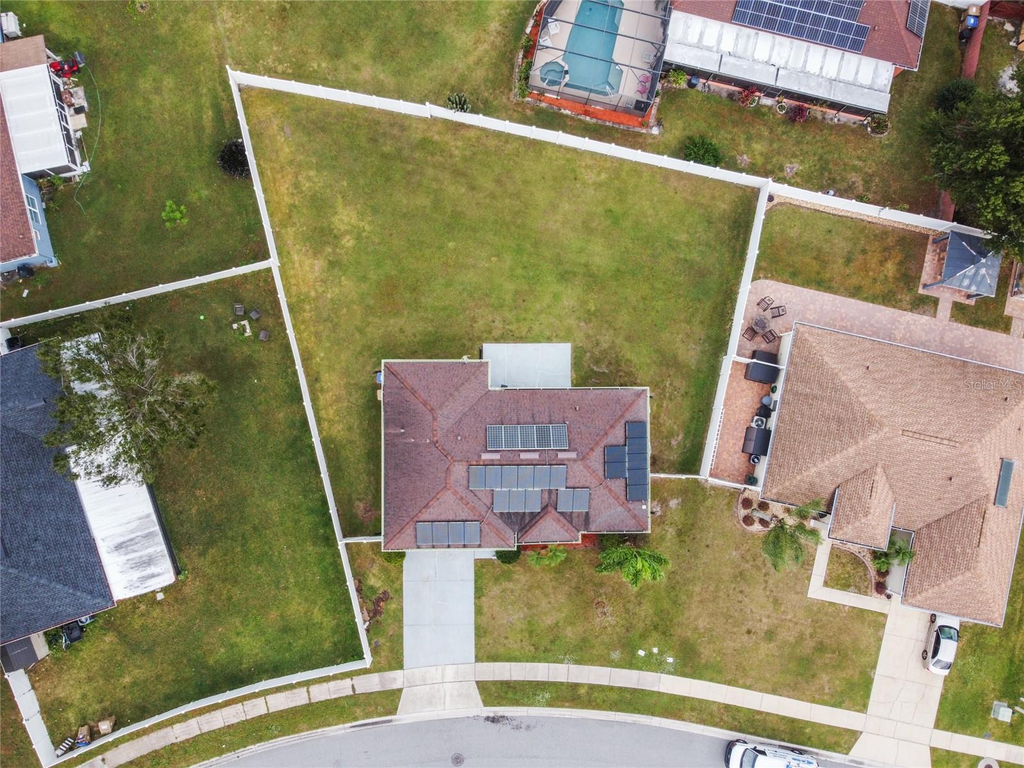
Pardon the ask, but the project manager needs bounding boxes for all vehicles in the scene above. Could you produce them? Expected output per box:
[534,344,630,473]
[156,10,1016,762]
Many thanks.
[729,740,821,768]
[927,615,971,678]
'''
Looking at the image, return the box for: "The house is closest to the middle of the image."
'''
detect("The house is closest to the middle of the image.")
[380,351,652,554]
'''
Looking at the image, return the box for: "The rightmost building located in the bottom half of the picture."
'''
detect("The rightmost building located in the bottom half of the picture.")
[755,320,1024,628]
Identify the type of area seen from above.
residential area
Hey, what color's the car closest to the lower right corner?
white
